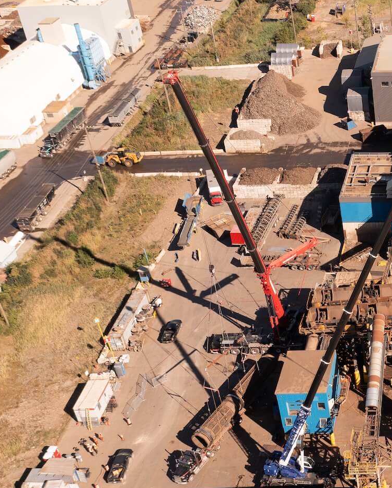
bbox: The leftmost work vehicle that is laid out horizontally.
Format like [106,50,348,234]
[94,144,137,163]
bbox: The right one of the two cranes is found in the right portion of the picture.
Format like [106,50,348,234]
[247,207,392,488]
